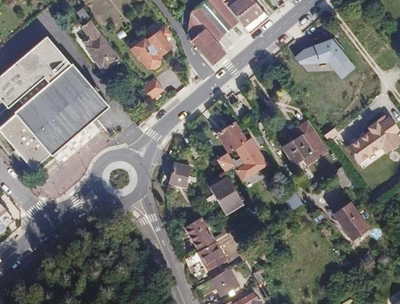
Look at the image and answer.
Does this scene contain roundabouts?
Yes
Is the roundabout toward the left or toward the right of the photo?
left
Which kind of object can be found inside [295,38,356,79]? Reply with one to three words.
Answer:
house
